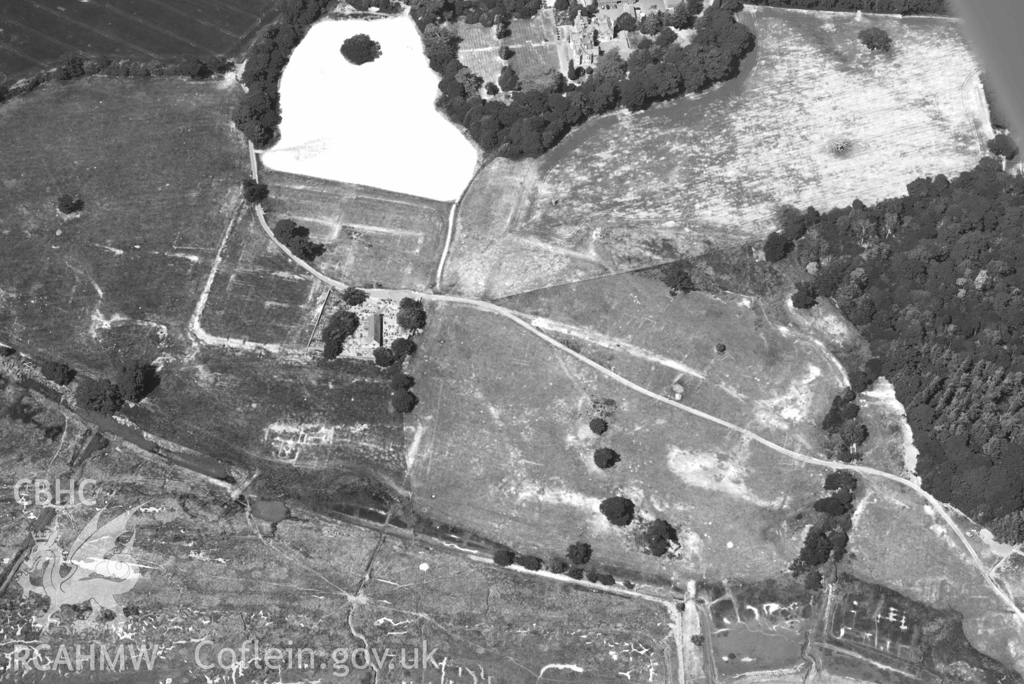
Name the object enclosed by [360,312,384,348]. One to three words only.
building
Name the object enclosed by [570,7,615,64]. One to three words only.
house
